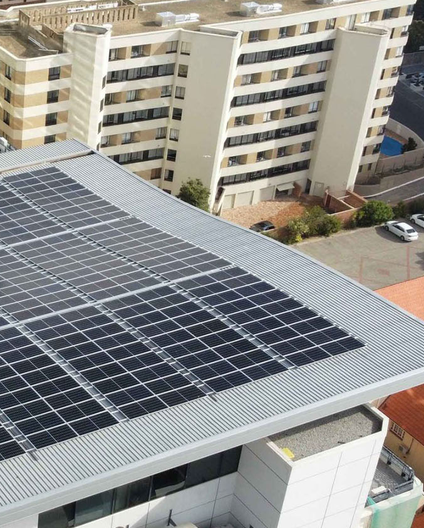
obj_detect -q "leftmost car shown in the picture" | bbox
[249,217,277,233]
